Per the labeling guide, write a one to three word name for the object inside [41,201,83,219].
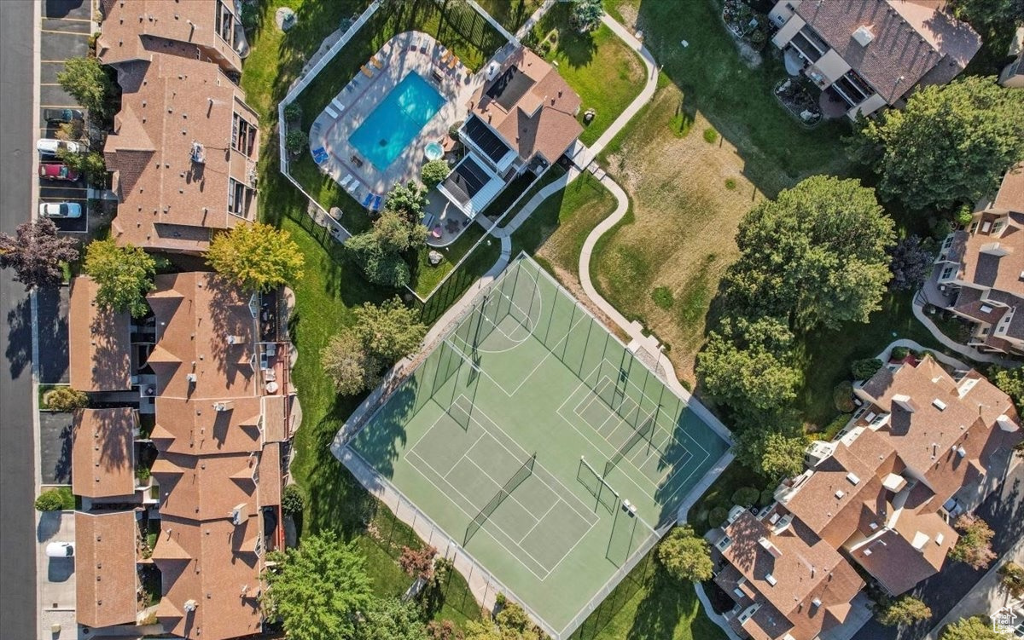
car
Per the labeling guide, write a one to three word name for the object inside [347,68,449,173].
swimming pool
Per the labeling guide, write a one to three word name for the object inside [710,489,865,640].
house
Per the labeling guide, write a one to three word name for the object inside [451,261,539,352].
basketball court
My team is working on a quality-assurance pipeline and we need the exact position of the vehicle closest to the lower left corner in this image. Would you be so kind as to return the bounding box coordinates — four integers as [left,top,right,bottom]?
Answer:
[46,541,76,560]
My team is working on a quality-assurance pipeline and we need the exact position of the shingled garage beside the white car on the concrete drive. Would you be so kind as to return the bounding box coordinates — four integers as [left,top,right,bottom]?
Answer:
[75,510,144,629]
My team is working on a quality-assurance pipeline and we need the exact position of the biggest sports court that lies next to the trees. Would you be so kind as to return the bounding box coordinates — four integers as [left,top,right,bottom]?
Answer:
[346,256,729,633]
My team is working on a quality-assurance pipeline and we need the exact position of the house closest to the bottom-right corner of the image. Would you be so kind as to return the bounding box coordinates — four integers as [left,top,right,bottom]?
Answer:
[843,476,959,597]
